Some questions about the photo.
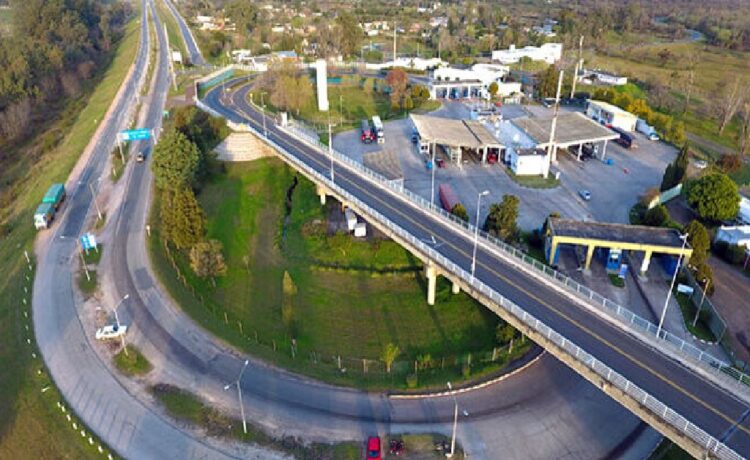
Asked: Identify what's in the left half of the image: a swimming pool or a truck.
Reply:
truck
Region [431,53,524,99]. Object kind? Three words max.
building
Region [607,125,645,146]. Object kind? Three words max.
truck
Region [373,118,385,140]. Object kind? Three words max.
vehicle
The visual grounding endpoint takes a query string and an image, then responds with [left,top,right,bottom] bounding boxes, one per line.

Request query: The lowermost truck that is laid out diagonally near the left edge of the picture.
[25,174,64,229]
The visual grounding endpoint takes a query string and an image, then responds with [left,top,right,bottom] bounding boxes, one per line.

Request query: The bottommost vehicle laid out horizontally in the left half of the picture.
[92,324,128,339]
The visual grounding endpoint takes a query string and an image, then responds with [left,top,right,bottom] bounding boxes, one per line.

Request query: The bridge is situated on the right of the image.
[198,116,750,460]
